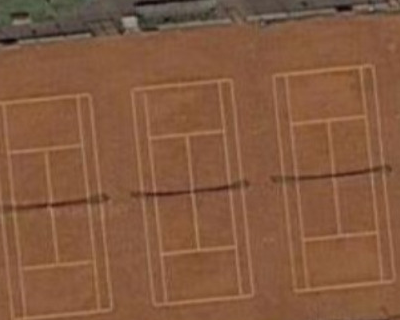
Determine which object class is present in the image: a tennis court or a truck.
tennis court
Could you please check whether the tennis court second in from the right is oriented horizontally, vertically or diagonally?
vertically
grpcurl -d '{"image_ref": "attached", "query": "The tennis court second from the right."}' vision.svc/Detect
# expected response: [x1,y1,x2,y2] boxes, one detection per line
[126,73,259,311]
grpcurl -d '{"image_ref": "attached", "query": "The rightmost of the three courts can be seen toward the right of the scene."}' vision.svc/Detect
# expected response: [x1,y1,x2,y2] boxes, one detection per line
[268,58,400,297]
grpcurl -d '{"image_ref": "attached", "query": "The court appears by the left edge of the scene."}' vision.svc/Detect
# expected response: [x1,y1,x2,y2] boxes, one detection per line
[0,87,118,320]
